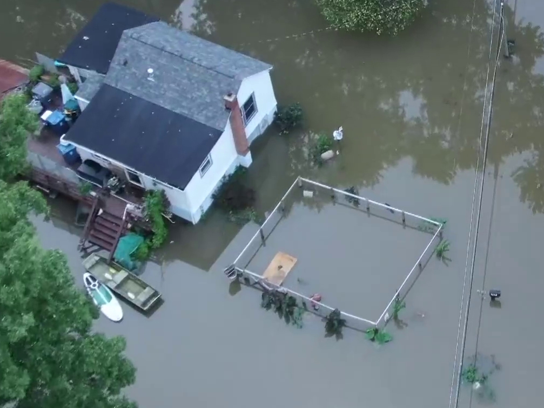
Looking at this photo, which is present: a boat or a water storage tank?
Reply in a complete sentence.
This aerial view contains a boat.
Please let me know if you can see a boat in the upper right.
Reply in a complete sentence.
No, no boat appears in the upper right.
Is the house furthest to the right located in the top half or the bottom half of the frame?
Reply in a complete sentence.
Seen from above, the house furthest to the right lies in the top half of the view.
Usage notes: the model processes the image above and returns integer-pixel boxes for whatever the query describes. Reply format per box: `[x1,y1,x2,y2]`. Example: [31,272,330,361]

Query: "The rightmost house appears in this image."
[62,3,278,223]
